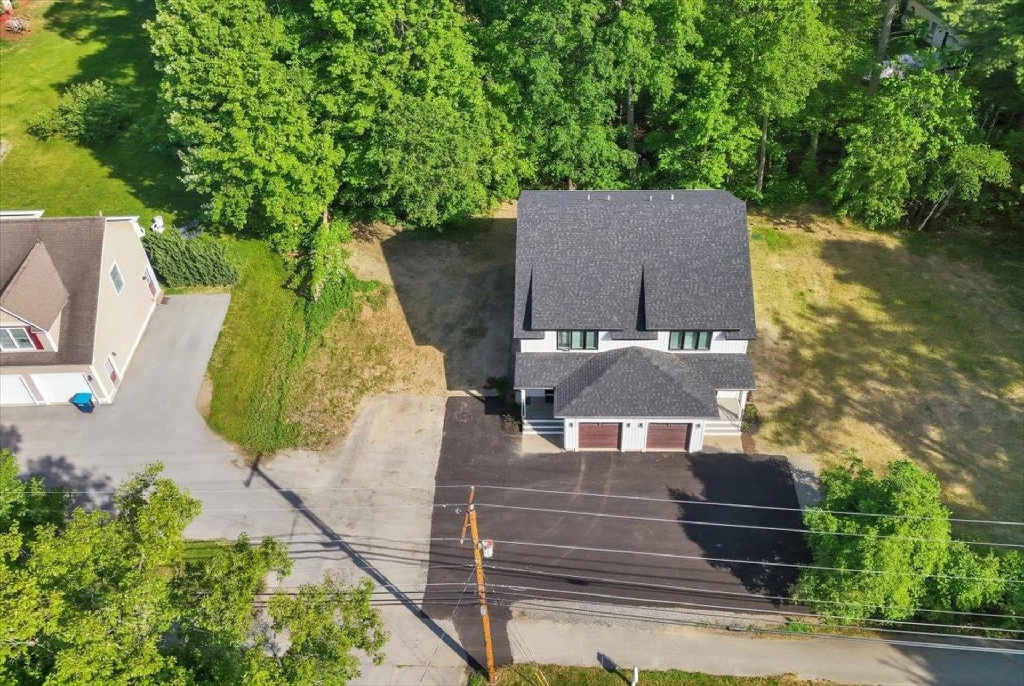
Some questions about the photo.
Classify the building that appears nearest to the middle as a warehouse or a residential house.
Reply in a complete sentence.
Specifically, the building that appears nearest to the middle is a residential house.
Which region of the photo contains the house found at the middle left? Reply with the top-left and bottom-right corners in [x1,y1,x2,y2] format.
[0,209,174,407]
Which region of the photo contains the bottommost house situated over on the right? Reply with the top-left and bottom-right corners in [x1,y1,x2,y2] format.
[513,188,758,456]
